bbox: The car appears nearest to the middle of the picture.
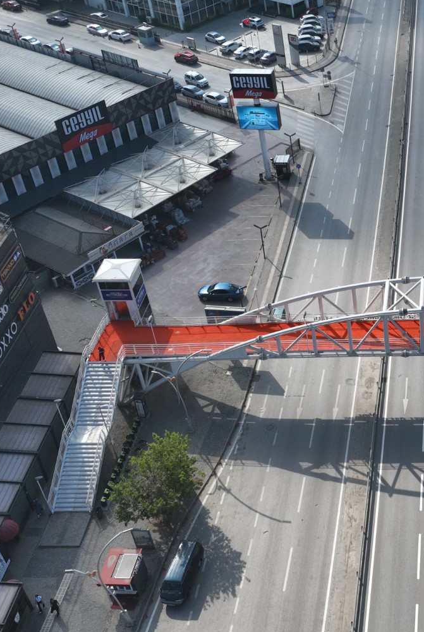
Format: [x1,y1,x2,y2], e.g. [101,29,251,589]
[197,282,248,303]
